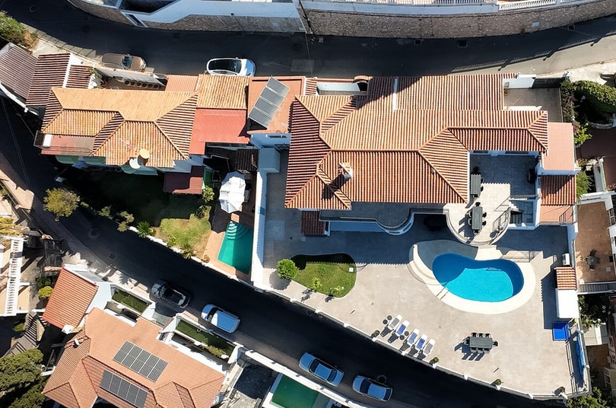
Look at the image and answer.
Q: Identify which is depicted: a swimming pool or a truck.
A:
swimming pool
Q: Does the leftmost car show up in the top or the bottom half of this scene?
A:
top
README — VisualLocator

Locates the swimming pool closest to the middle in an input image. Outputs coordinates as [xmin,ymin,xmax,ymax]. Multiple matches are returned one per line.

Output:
[218,221,254,274]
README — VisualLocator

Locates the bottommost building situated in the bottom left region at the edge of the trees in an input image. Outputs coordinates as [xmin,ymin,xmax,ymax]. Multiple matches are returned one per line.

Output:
[41,313,230,408]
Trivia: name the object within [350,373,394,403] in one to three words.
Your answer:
car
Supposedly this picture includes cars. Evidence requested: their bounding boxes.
[200,302,243,337]
[350,373,394,403]
[298,351,346,387]
[149,278,194,314]
[99,50,148,73]
[206,54,256,76]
